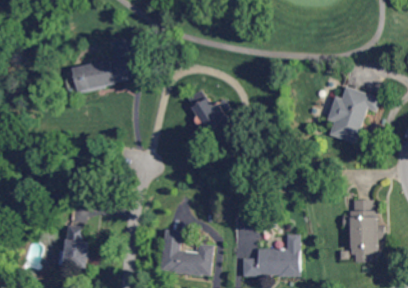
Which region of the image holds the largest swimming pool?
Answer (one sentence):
You can find the largest swimming pool in the bottom left area of the picture.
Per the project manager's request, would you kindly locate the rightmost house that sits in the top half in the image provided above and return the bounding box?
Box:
[324,84,378,140]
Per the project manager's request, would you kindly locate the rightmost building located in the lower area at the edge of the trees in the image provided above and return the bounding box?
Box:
[349,196,386,264]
